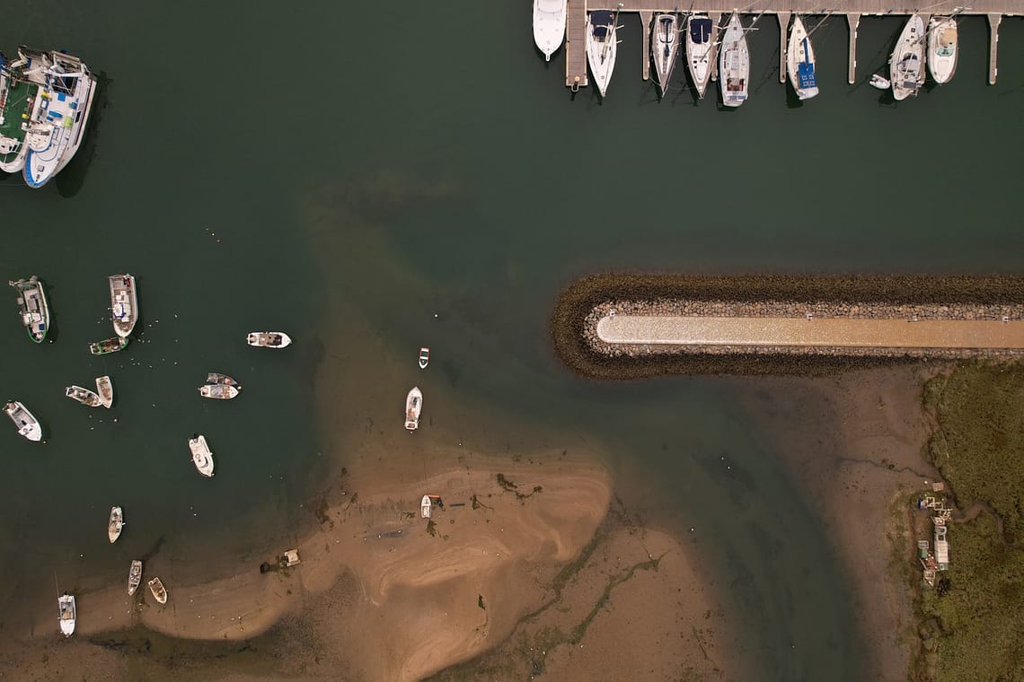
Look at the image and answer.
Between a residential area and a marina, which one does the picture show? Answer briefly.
marina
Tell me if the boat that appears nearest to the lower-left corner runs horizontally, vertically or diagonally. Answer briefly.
vertically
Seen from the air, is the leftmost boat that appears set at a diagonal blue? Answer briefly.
No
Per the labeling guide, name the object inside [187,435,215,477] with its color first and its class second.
white boat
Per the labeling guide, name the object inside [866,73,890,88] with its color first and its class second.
white boat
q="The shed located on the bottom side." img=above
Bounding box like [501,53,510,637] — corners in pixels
[928,539,948,569]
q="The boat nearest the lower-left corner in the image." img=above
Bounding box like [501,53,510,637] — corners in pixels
[54,566,77,637]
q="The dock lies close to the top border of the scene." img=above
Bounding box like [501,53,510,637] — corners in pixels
[566,0,1024,92]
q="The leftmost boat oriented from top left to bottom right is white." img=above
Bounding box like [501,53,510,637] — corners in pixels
[2,401,43,441]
